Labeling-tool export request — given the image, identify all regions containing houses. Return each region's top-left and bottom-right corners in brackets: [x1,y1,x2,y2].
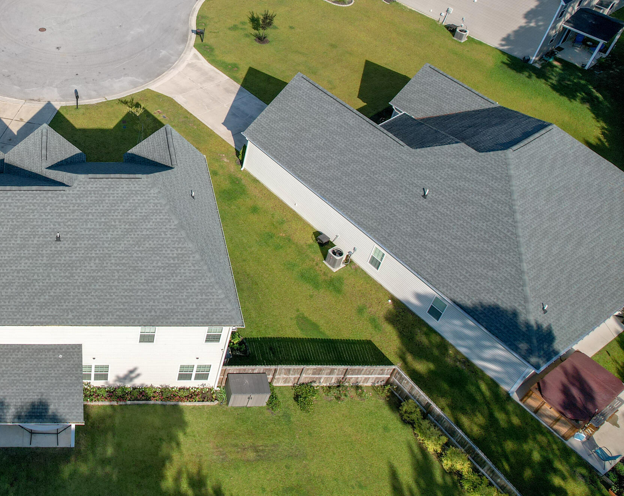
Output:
[234,62,624,395]
[0,121,247,444]
[395,0,624,71]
